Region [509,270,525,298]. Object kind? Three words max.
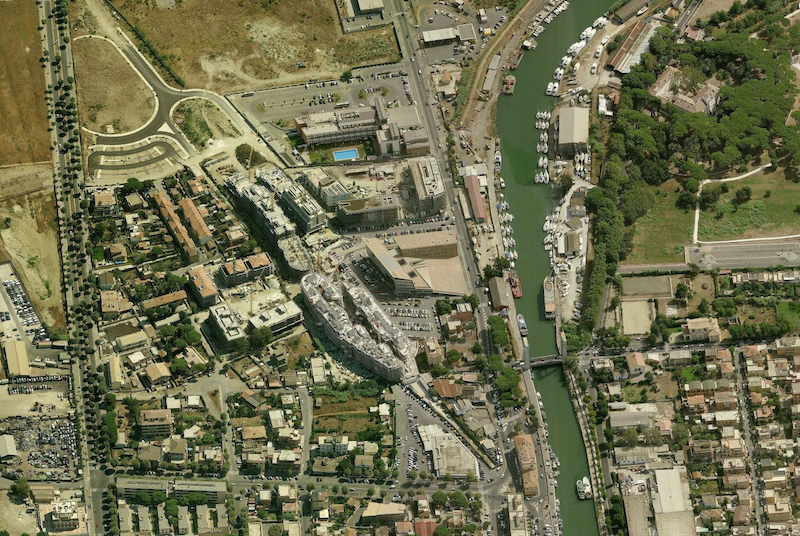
boat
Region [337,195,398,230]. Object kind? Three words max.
building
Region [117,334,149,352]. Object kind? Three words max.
house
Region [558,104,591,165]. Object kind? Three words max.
shed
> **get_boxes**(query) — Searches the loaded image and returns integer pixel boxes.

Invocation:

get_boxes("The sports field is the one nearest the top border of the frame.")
[620,274,673,298]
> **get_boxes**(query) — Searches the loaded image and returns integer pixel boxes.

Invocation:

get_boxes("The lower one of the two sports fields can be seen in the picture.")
[622,301,652,334]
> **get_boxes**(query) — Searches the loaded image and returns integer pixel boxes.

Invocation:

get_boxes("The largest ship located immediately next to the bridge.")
[543,274,556,320]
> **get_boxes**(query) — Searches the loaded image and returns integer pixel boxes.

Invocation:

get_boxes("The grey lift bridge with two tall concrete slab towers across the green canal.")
[520,331,568,370]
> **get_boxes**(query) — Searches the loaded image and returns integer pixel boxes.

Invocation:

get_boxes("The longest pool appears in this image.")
[333,148,359,161]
